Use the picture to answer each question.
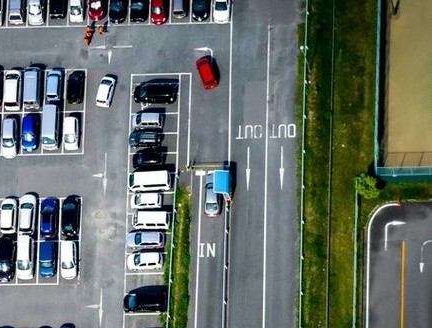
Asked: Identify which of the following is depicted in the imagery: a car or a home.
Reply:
car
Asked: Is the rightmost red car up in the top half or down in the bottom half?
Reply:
top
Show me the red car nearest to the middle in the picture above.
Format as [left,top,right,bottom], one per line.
[198,59,220,93]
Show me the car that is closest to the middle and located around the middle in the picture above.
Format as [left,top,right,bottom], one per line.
[205,176,222,215]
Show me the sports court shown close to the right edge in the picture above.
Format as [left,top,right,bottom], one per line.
[380,0,432,182]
